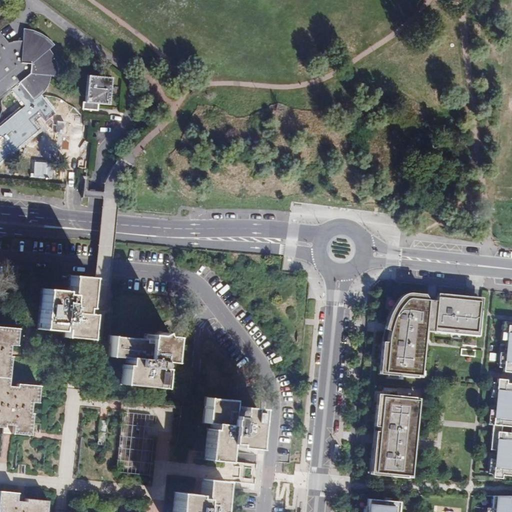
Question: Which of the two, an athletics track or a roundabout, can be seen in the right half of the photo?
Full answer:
Visible in the right half of the photo is a roundabout.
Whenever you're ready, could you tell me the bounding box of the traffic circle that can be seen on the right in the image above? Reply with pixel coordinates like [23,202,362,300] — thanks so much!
[286,219,399,292]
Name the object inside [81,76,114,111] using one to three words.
house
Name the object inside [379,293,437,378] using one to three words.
building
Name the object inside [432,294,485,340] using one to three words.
building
